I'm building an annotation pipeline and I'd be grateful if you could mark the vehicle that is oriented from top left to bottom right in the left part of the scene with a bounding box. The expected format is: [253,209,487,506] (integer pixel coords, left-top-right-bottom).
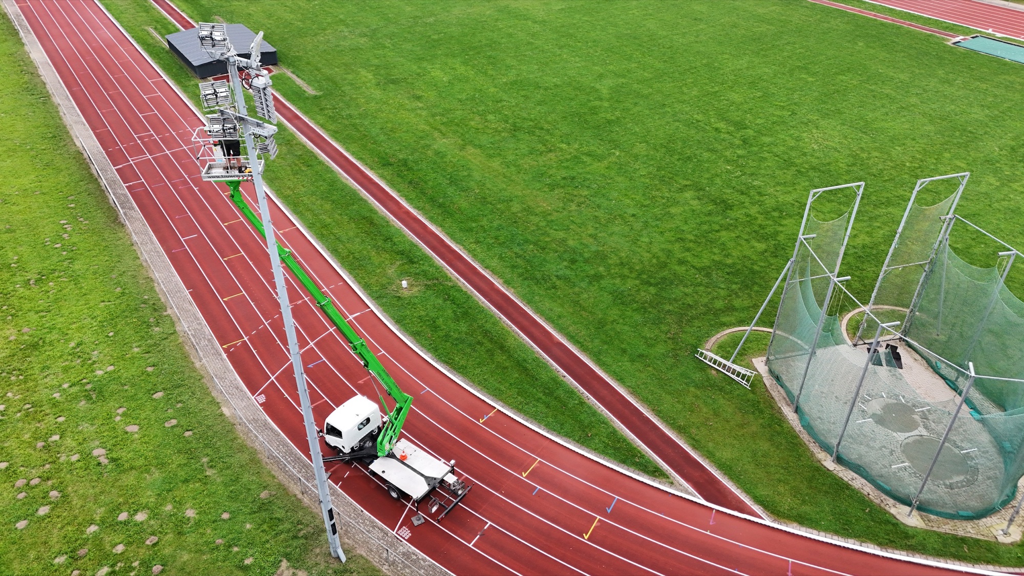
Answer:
[191,127,475,526]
